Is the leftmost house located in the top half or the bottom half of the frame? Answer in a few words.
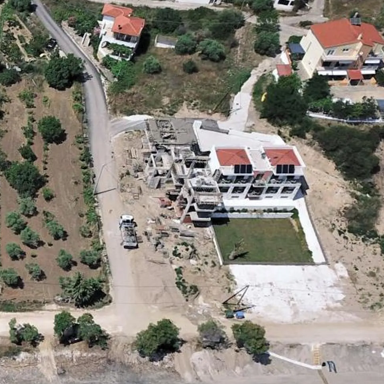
top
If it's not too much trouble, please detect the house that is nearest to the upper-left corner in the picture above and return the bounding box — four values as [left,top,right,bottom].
[100,6,144,68]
